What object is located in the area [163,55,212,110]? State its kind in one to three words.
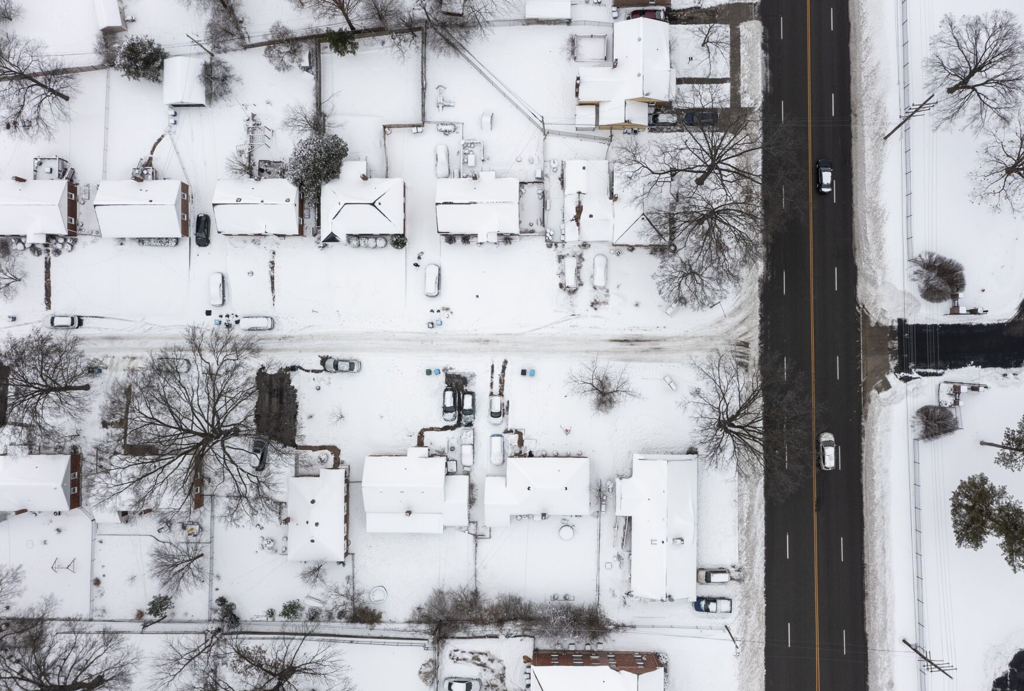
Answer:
building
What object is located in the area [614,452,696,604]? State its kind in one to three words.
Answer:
house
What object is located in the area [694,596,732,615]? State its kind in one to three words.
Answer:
vehicle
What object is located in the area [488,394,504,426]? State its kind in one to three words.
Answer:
car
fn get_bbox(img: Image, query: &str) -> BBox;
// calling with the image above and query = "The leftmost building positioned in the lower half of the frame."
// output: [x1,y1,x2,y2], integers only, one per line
[0,442,81,513]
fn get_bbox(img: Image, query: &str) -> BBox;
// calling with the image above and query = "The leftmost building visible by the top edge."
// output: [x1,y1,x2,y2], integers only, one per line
[92,0,134,36]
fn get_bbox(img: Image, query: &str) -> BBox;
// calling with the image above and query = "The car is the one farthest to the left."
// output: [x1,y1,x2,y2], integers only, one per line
[44,314,83,330]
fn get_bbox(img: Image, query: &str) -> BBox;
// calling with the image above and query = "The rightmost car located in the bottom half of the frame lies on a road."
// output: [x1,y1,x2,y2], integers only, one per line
[817,431,837,471]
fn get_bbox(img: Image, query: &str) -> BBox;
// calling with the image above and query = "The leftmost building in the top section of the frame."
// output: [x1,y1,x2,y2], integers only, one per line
[0,176,78,245]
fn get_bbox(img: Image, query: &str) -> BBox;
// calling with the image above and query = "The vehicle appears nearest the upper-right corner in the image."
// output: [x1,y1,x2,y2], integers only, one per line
[815,159,833,194]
